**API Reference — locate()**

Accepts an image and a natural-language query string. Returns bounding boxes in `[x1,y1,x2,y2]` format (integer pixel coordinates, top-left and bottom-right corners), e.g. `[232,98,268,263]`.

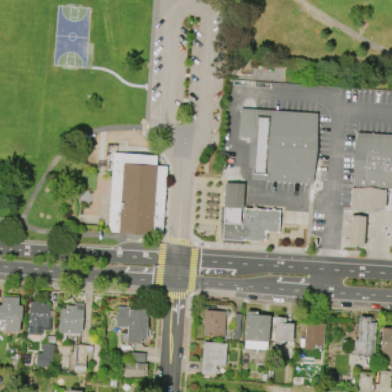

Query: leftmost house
[0,294,24,334]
